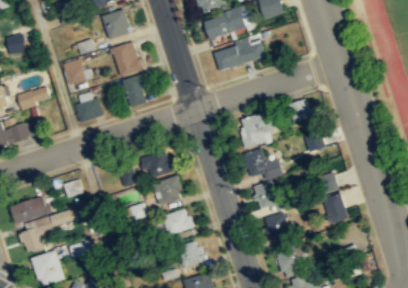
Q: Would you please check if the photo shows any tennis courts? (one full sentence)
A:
No, there is no tennis court in the image.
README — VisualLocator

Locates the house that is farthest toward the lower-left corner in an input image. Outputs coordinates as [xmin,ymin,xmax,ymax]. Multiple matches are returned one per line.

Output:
[31,250,67,284]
